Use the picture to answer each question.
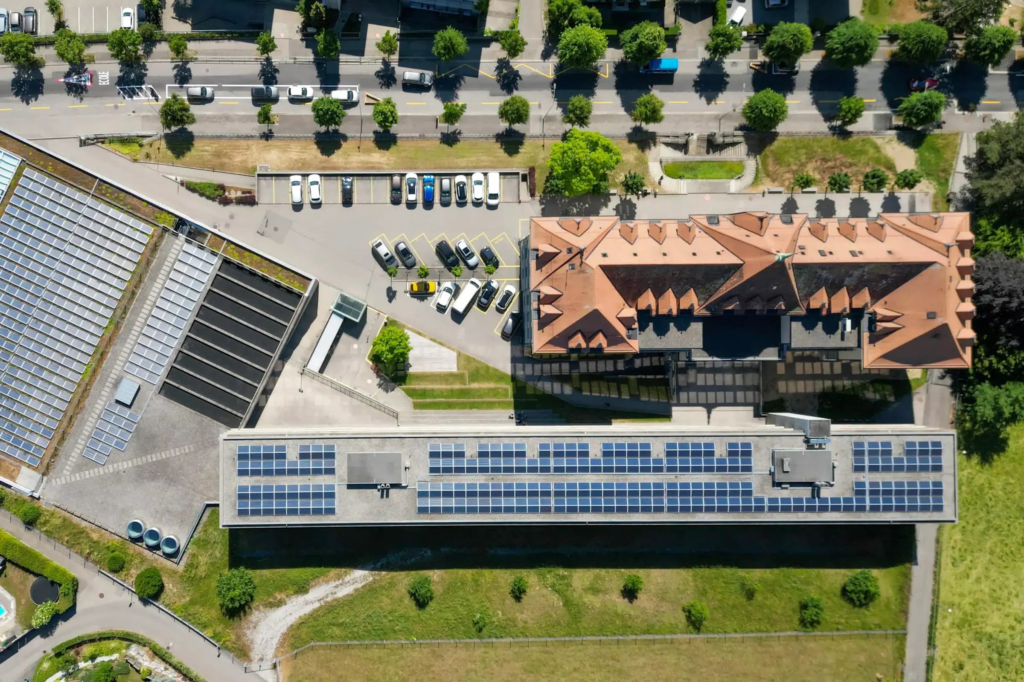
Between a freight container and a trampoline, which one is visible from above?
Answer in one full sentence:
The one in the frame is a trampoline.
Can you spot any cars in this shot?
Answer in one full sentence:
Yes, a car can be made out from above.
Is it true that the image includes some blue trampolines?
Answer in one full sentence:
No, I can see no blue trampoline in this picture.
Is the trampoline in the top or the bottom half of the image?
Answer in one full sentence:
The trampoline is in the bottom half of the image.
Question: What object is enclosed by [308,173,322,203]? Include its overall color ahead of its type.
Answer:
white car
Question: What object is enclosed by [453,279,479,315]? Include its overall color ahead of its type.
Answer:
white vehicle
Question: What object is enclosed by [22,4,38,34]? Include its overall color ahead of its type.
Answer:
gray car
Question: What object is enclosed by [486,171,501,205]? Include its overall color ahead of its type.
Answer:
white vehicle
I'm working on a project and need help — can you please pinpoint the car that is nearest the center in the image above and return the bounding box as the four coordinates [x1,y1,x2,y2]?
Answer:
[501,311,522,341]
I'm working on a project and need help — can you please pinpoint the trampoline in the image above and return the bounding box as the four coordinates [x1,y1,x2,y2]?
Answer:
[30,577,60,606]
